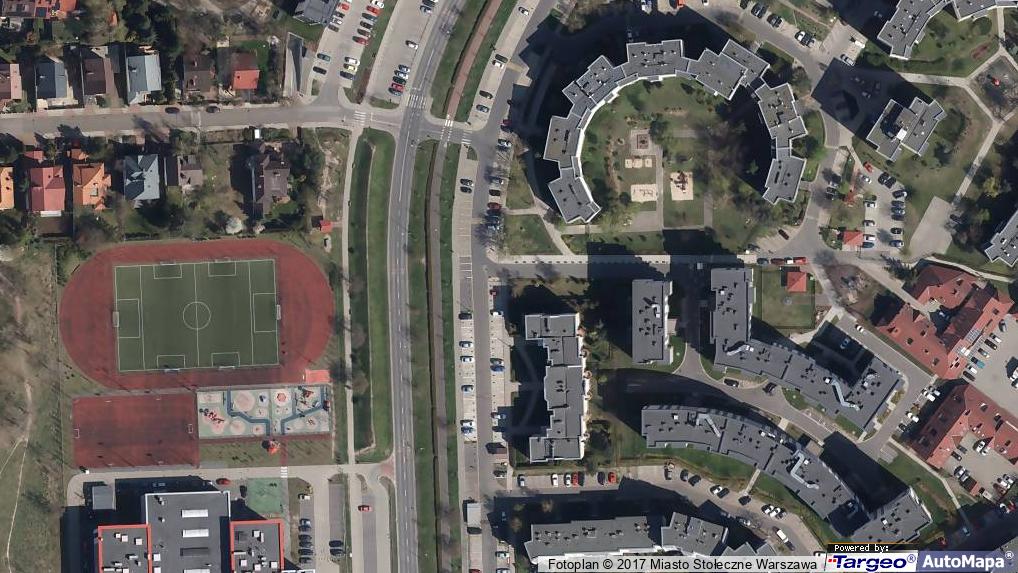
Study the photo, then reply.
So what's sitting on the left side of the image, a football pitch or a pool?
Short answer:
football pitch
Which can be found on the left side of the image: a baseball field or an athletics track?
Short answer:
athletics track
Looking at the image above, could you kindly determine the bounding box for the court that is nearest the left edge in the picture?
[74,394,198,468]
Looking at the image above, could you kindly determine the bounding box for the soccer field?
[114,259,279,372]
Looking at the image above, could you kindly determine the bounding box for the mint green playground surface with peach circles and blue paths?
[197,384,329,437]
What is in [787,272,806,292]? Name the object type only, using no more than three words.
house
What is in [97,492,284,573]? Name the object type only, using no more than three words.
building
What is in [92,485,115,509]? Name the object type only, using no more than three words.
shed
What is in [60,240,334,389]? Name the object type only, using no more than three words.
running track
